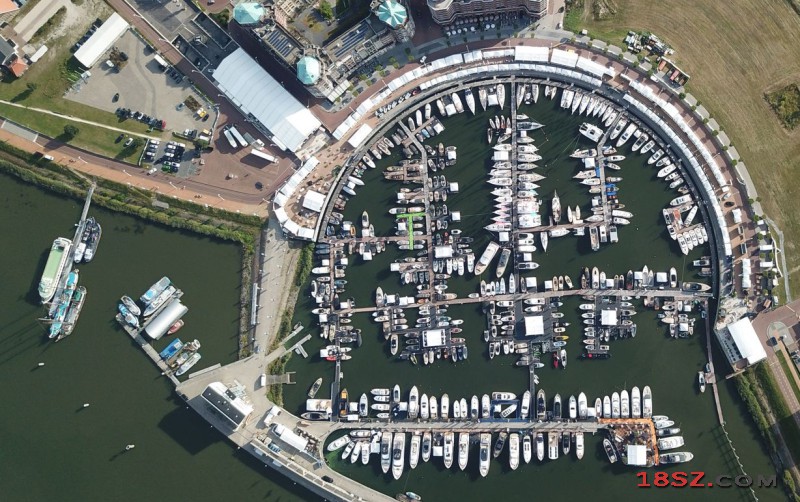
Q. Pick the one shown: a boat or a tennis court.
boat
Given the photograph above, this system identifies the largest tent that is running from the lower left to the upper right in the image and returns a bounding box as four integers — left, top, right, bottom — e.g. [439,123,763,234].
[74,12,132,69]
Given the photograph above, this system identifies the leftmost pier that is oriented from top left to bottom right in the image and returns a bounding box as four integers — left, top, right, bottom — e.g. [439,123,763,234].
[115,313,181,387]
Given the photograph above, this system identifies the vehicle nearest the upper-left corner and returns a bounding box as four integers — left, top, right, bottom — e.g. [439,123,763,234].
[29,45,49,62]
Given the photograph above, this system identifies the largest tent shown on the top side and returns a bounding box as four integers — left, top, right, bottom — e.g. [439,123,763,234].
[212,48,324,158]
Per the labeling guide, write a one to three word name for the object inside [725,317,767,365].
tent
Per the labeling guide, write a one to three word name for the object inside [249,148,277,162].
vehicle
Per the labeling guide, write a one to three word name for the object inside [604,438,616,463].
boat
